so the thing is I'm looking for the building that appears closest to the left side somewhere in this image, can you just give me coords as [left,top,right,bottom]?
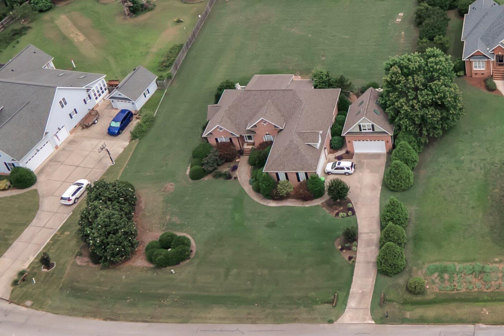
[0,35,115,174]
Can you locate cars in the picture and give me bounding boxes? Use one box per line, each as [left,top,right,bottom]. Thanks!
[56,180,94,207]
[323,159,357,176]
[105,106,136,135]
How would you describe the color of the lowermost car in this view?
white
